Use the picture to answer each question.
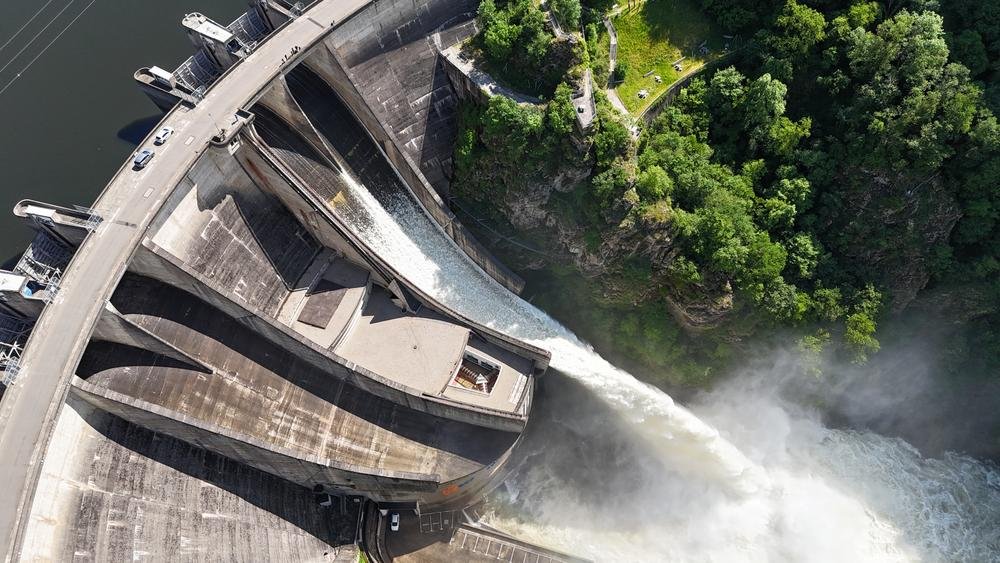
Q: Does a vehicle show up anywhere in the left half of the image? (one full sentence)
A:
Yes, you'll find a vehicle in the left half of the image.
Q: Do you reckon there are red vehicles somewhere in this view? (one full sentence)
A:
No, there isn't any red vehicle down there.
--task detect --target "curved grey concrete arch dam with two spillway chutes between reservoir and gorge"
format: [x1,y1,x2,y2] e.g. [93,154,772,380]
[0,0,548,563]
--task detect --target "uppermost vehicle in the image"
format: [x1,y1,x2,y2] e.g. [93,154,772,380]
[150,125,177,145]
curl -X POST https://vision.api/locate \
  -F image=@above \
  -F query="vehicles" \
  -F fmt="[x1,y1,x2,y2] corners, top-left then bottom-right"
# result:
[128,147,158,171]
[391,512,400,532]
[150,125,177,145]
